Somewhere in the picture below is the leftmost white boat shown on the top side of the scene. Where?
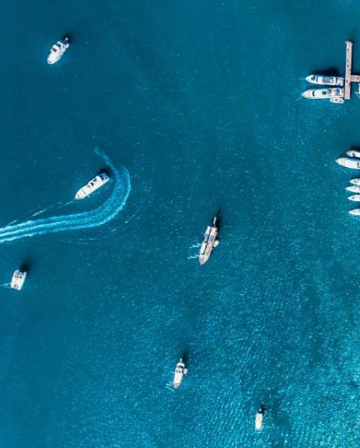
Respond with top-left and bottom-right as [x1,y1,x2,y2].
[49,38,72,61]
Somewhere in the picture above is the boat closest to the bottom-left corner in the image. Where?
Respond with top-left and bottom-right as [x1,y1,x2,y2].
[1,267,27,290]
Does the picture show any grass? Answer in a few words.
No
